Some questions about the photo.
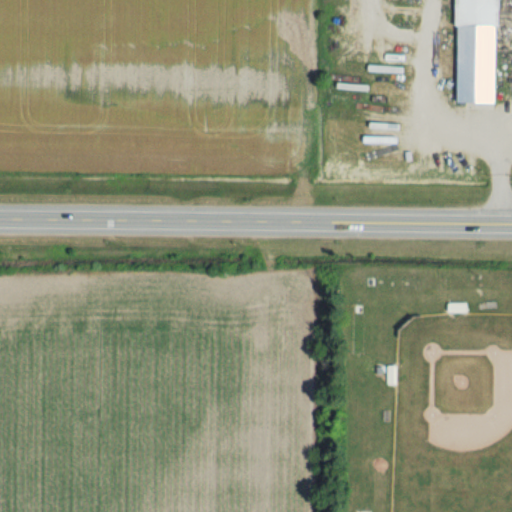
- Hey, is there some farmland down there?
Yes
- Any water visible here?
No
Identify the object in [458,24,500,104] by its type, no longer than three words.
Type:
building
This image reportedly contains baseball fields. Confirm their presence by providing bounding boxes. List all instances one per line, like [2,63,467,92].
[392,314,512,512]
